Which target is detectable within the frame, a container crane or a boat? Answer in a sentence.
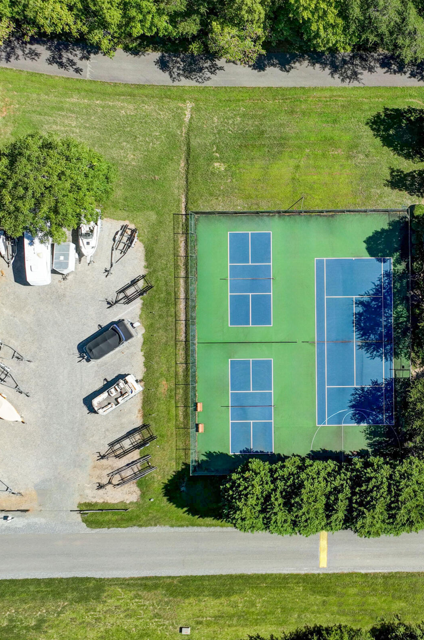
This aerial view contains a boat.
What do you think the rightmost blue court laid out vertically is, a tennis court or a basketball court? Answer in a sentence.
It turns out the rightmost blue court laid out vertically is a tennis court.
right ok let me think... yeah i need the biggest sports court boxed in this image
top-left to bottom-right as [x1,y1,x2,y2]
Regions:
[196,213,411,476]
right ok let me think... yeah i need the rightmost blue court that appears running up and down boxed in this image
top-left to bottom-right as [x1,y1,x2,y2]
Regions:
[315,257,395,426]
